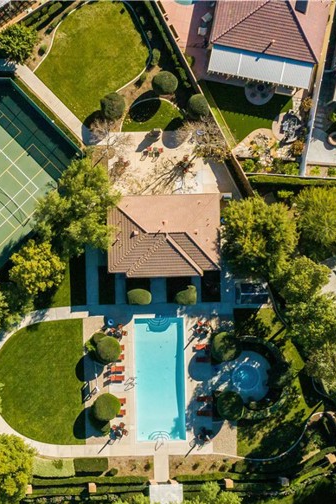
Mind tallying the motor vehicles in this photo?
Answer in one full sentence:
The count of motor vehicles is 0.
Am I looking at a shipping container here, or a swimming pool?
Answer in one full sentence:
The image shows a swimming pool.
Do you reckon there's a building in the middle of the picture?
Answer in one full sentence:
Yes, a building is visible in the middle of the picture.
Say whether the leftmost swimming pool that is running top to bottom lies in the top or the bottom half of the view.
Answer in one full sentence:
It is in the bottom half that the leftmost swimming pool that is running top to bottom appears.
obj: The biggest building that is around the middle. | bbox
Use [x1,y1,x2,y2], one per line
[107,192,221,277]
